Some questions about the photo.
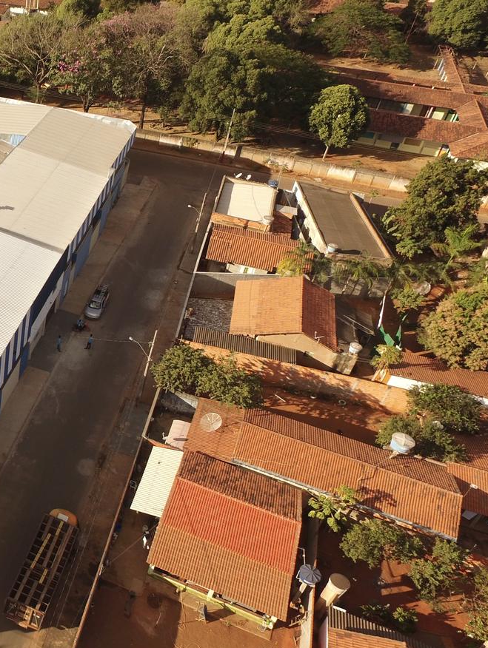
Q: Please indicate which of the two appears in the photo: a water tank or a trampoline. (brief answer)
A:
water tank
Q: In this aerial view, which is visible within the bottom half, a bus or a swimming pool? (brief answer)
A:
bus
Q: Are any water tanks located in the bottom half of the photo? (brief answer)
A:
Yes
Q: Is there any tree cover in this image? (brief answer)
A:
Yes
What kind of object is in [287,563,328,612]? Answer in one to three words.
water tank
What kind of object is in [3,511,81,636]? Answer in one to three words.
bus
